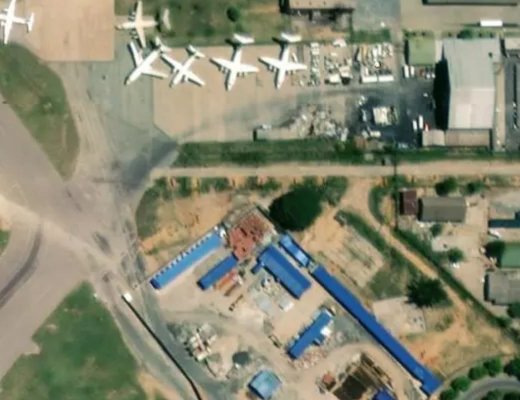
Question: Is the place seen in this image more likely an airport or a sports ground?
airport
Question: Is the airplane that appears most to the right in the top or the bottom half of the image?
top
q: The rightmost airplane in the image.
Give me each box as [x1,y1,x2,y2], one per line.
[262,36,308,87]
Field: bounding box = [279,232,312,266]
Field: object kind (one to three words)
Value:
shed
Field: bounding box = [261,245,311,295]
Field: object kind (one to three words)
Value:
shed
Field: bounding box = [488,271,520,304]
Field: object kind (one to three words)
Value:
house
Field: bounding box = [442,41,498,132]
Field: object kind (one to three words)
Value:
hangar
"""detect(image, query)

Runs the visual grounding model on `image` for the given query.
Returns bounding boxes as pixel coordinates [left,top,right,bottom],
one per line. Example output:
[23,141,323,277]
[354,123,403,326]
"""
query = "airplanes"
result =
[126,37,171,82]
[167,43,210,86]
[0,0,34,43]
[262,36,308,87]
[117,0,168,46]
[214,37,261,88]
